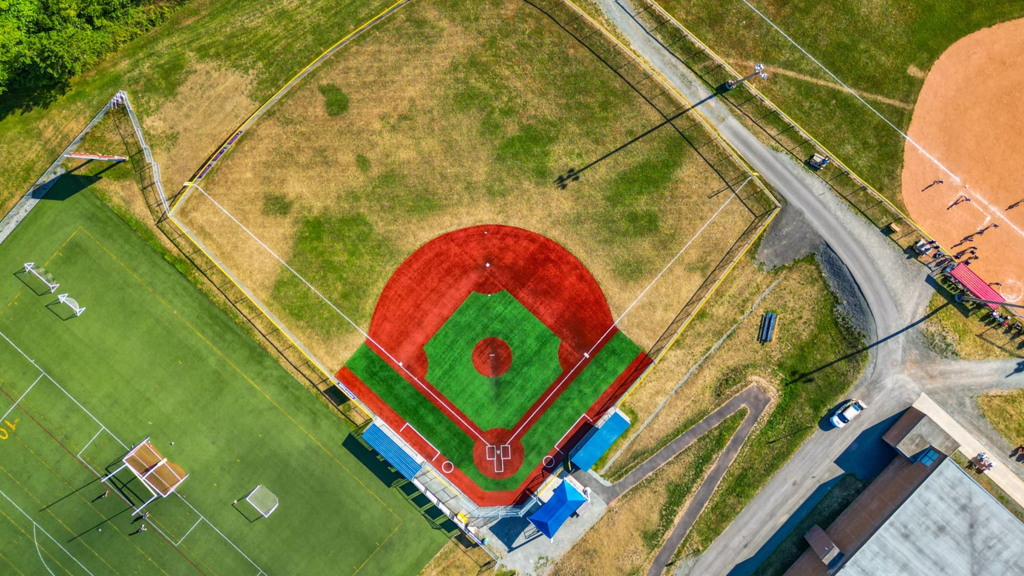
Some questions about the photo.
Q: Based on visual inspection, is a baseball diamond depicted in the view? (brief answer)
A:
Yes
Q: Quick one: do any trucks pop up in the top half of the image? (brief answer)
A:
No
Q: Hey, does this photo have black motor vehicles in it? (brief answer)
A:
No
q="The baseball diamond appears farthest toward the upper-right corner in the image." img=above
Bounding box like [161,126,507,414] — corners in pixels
[649,0,1024,326]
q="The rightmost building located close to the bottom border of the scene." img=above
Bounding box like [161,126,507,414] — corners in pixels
[782,403,1024,576]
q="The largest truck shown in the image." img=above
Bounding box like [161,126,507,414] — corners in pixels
[827,395,869,427]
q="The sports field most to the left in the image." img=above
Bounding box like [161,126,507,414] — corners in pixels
[0,172,457,576]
